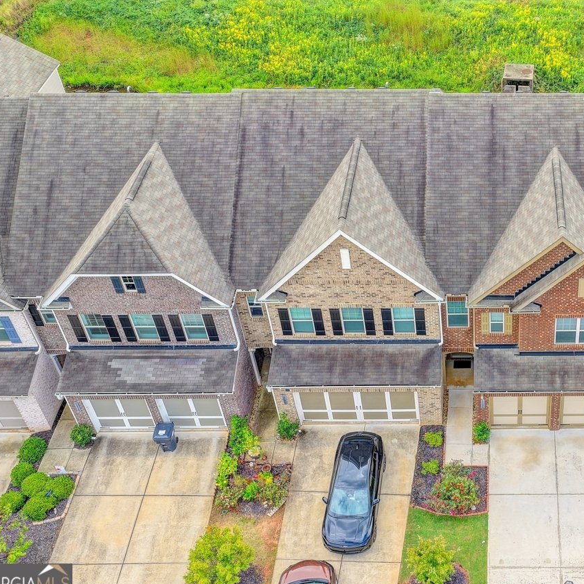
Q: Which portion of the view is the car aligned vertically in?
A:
bottom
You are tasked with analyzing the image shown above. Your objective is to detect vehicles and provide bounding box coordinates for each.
[320,429,384,552]
[283,564,338,584]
